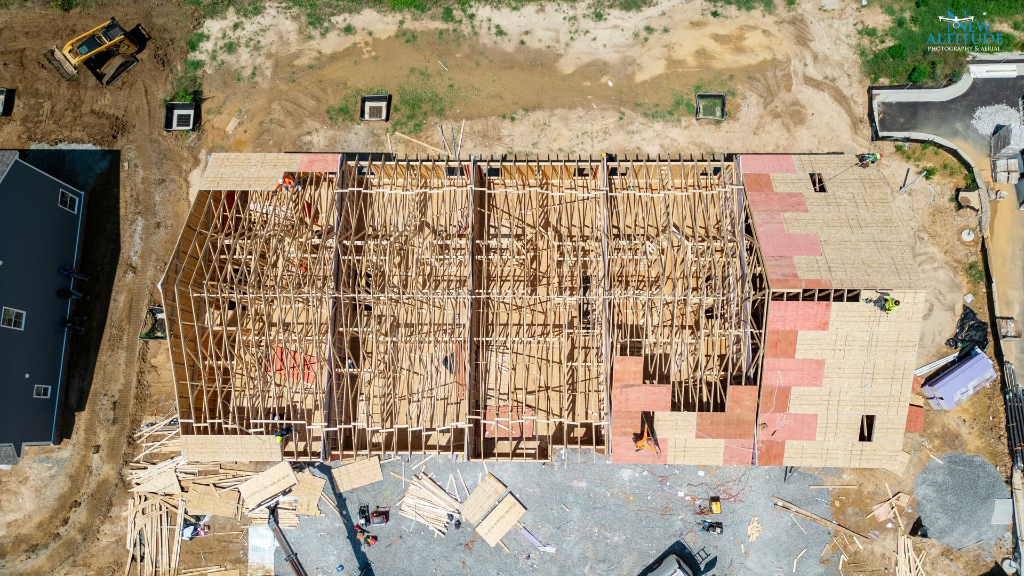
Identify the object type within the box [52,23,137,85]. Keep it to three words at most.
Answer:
work vehicle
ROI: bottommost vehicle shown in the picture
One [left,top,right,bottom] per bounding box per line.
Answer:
[641,552,691,576]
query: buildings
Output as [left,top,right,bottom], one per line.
[158,153,926,468]
[0,145,88,464]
